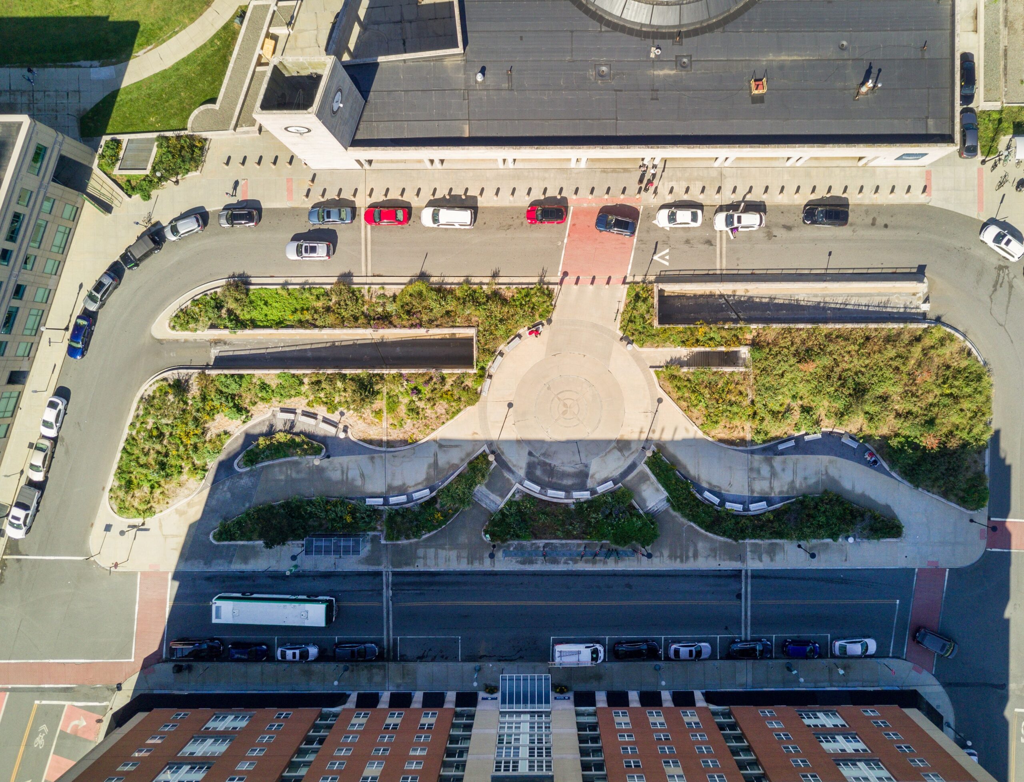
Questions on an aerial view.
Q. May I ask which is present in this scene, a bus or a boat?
bus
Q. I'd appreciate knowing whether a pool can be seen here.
No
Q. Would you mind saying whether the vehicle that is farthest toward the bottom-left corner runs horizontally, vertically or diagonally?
horizontally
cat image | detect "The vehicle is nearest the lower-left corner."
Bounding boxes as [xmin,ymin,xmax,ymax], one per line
[167,638,224,662]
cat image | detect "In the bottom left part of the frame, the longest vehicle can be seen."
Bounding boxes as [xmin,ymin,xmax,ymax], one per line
[210,594,335,629]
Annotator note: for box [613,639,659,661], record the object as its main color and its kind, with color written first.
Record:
black car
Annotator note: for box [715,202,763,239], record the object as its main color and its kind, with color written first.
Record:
white car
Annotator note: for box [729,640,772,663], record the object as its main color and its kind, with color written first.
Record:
black car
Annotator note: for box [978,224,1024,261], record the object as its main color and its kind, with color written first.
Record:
white car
